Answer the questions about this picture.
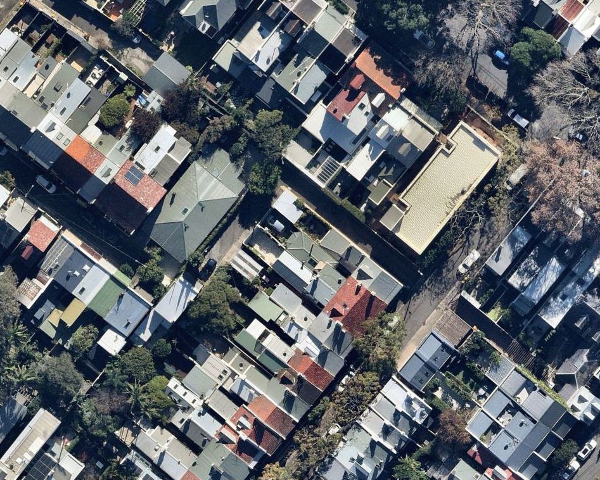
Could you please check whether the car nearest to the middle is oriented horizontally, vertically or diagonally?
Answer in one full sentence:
The car nearest to the middle has been laid out diagonally relative to the frame.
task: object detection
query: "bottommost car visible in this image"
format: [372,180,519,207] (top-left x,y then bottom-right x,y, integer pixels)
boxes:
[557,459,585,480]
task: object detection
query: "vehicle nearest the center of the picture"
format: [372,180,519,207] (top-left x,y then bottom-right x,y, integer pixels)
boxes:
[265,213,290,236]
